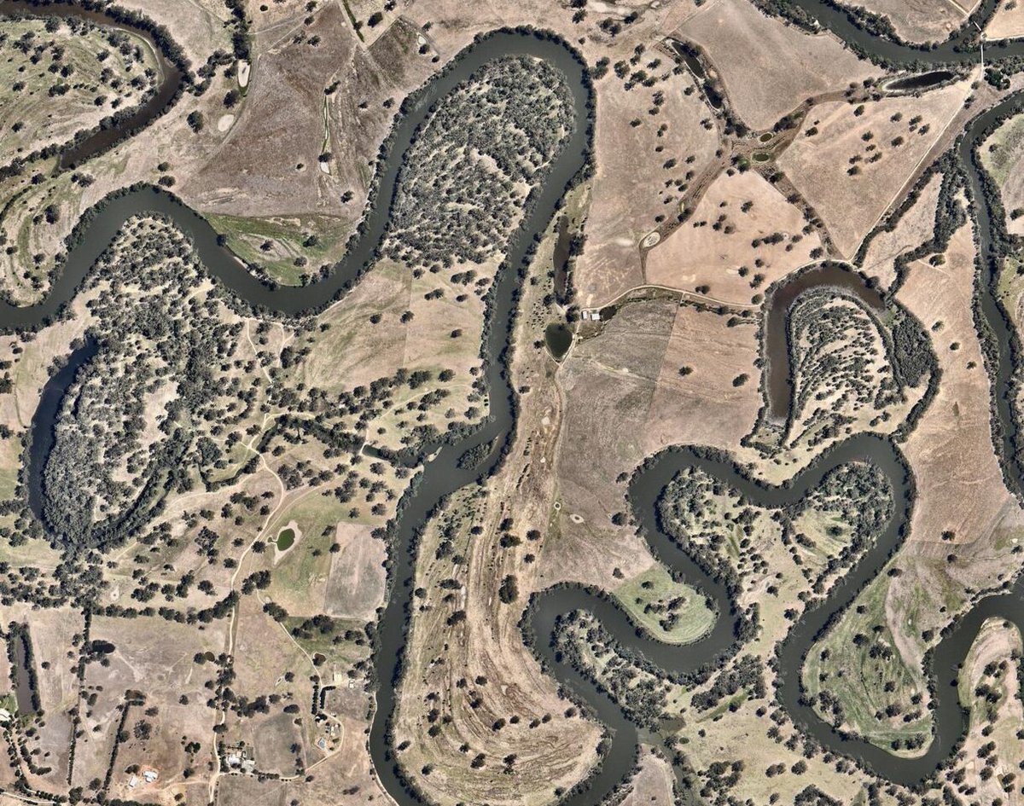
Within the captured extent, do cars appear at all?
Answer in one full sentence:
No, there appears to be no car in this shot.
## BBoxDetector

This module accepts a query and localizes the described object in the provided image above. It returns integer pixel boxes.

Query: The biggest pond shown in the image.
[28,338,97,541]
